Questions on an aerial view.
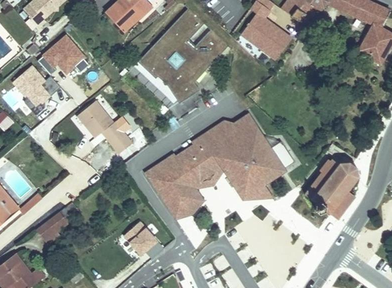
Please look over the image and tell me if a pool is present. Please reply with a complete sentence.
Yes, there is a pool in the image.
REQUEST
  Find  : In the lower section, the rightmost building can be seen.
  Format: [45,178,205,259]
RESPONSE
[310,158,361,220]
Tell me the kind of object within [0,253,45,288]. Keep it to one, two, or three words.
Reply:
house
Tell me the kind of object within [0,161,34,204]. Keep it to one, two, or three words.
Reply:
swimming pool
